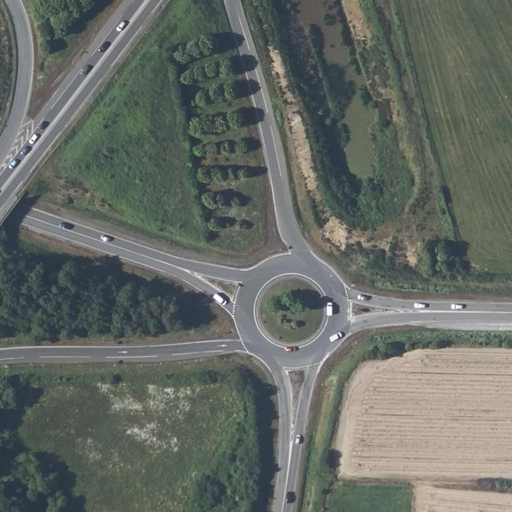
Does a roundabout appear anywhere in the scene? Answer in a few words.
Yes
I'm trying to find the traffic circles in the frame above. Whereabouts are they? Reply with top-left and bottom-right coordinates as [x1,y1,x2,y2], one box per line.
[234,252,351,368]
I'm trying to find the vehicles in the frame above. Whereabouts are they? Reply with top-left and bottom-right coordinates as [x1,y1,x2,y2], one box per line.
[10,159,19,170]
[213,294,226,304]
[451,304,462,309]
[29,134,38,144]
[101,235,112,242]
[21,146,30,156]
[82,64,91,76]
[60,222,72,229]
[286,492,292,503]
[356,294,368,300]
[294,434,300,444]
[285,346,294,352]
[100,42,109,52]
[414,303,426,308]
[330,333,342,342]
[117,20,126,30]
[39,120,48,131]
[326,302,332,316]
